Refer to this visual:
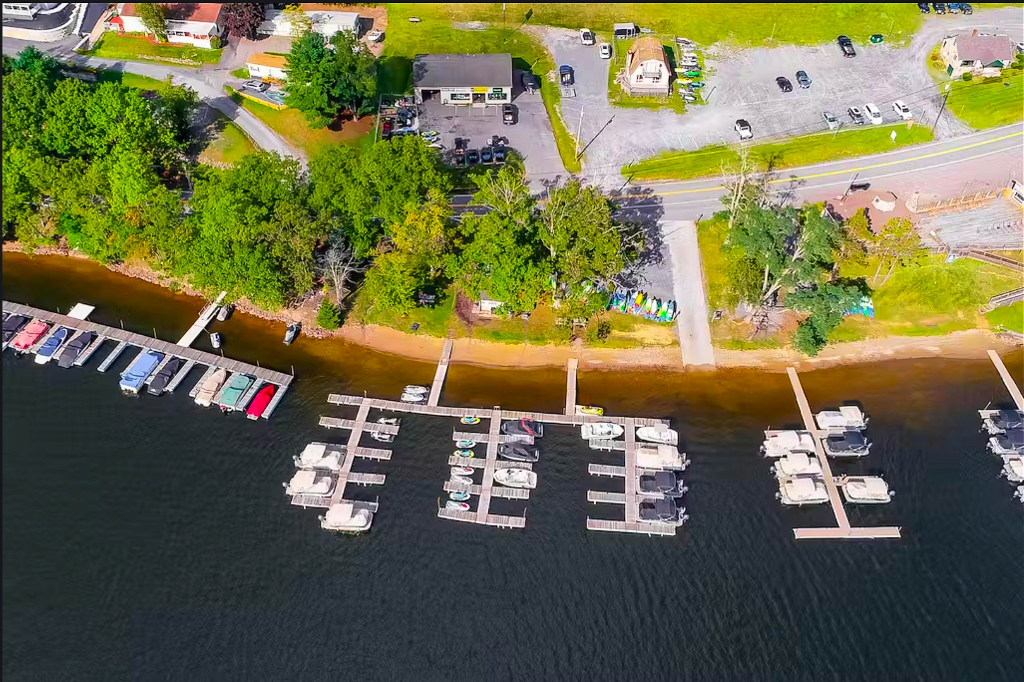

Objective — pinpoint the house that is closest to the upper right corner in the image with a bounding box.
[932,28,1021,81]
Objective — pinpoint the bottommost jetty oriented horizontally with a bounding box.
[290,391,676,537]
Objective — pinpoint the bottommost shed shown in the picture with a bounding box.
[477,288,504,319]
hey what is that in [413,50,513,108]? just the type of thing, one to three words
building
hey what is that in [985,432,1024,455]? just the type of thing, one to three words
boat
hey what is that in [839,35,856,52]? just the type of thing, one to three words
vehicle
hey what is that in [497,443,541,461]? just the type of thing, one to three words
boat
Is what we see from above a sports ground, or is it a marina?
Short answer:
marina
